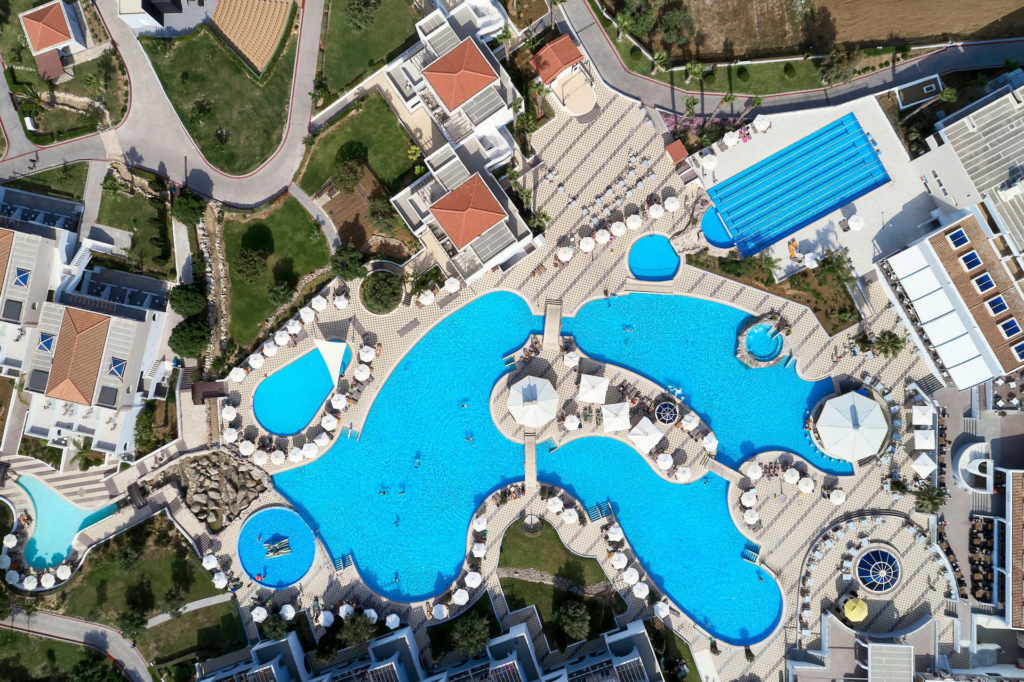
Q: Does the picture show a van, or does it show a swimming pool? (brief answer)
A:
swimming pool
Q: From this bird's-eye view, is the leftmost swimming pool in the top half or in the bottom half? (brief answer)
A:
bottom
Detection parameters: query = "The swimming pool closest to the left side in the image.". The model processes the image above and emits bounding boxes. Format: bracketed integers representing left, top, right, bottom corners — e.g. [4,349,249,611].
[12,472,123,572]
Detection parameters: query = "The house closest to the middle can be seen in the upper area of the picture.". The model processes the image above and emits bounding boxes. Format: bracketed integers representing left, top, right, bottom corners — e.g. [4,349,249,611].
[392,144,533,284]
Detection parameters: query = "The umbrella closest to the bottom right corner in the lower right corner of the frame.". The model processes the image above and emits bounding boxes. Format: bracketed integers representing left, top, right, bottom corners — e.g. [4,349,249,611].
[844,598,868,622]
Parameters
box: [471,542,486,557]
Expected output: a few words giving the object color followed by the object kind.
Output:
white umbrella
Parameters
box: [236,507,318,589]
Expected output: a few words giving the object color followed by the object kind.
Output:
blue swimming pool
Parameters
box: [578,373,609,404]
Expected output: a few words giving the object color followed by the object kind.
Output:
white tent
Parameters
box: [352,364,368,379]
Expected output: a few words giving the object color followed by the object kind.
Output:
white umbrella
